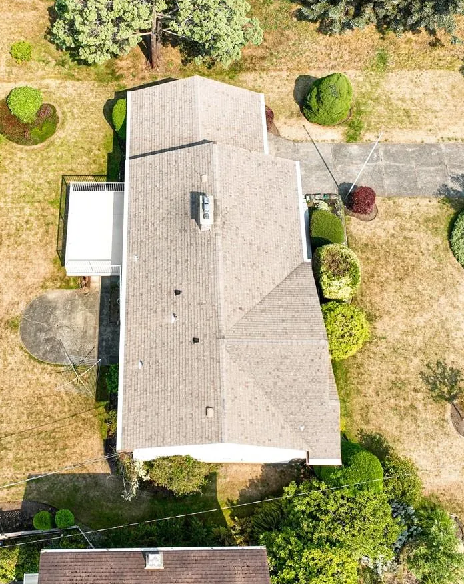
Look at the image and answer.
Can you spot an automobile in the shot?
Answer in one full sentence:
No, there isn't any automobile down there.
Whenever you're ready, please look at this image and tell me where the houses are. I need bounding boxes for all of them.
[23,545,272,584]
[115,76,342,473]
